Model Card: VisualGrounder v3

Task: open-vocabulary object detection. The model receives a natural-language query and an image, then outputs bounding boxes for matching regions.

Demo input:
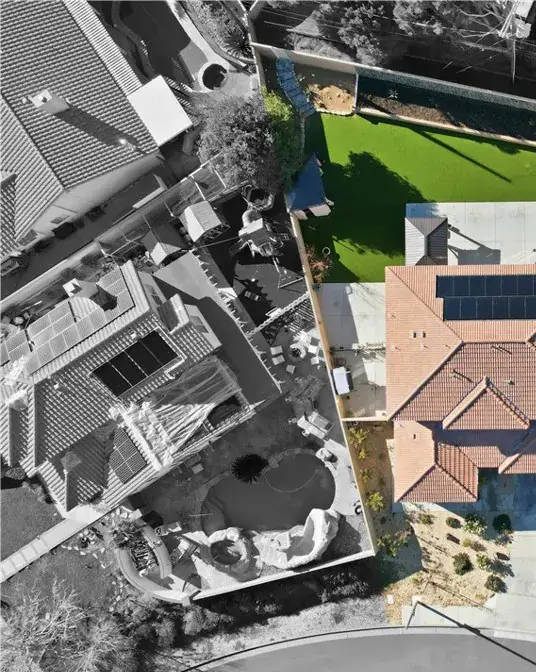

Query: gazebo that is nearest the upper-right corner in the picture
[406,217,447,265]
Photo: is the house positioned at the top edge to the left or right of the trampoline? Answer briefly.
to the left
